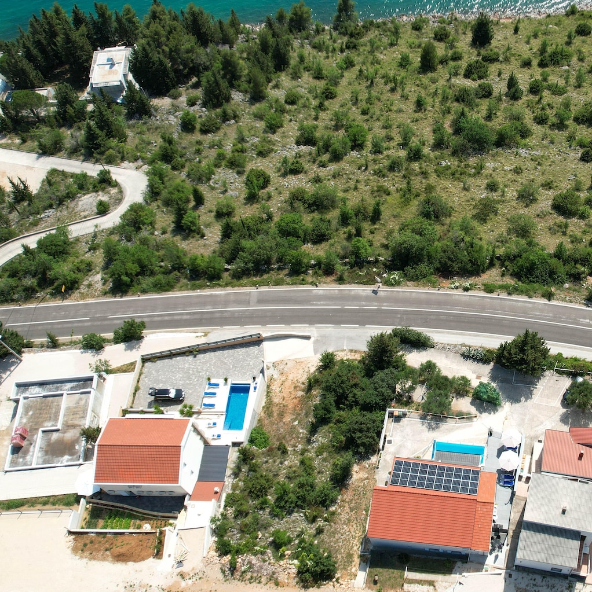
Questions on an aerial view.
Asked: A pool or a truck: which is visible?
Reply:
pool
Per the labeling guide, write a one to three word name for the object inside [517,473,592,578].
house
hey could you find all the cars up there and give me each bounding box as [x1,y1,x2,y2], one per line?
[145,386,185,403]
[561,375,577,405]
